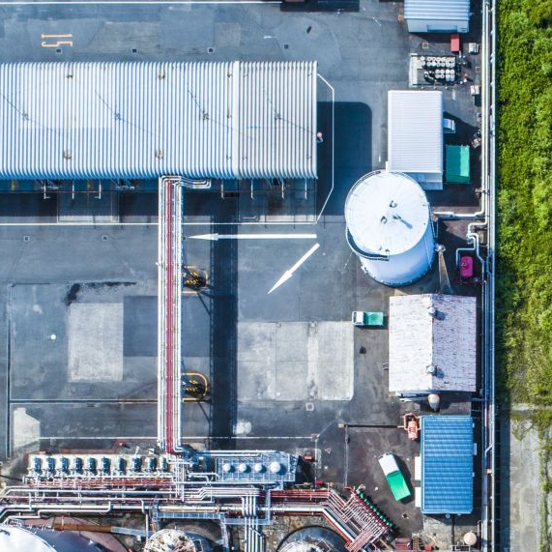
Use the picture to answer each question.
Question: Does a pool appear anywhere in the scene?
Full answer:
No, there's no pool here.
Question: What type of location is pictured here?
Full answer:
This image shows an industrial area.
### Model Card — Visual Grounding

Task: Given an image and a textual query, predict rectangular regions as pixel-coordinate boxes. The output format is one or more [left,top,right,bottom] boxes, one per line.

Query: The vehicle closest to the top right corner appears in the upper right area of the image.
[443,114,465,136]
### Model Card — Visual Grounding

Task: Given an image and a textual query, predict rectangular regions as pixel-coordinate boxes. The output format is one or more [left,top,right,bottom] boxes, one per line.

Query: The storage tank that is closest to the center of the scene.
[345,167,447,289]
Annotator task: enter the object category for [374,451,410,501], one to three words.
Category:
truck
